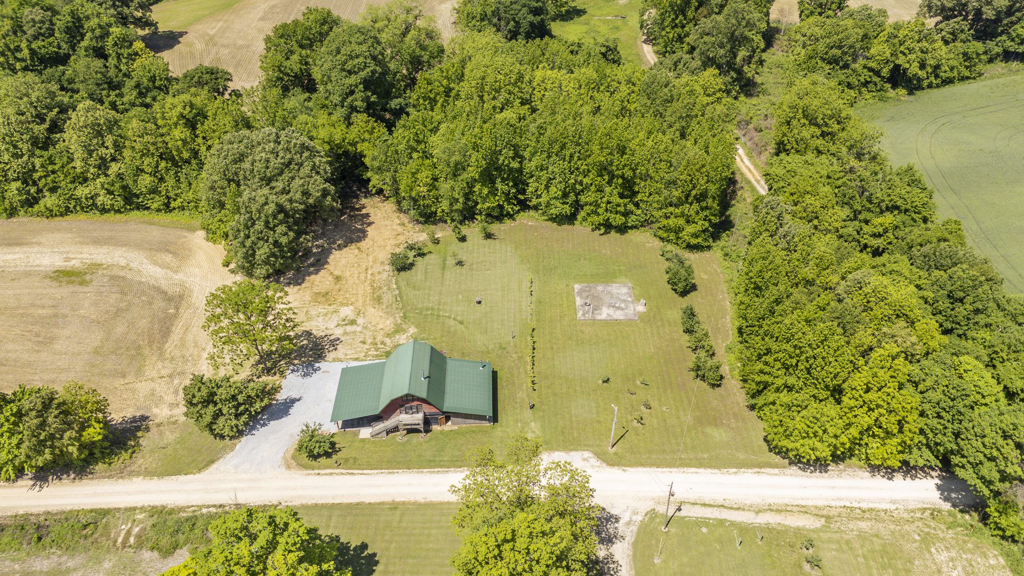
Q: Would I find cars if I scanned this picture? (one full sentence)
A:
No, there appears to be no car in this shot.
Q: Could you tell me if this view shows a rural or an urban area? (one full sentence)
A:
The area is rural.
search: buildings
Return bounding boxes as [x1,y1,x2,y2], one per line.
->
[330,339,493,438]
